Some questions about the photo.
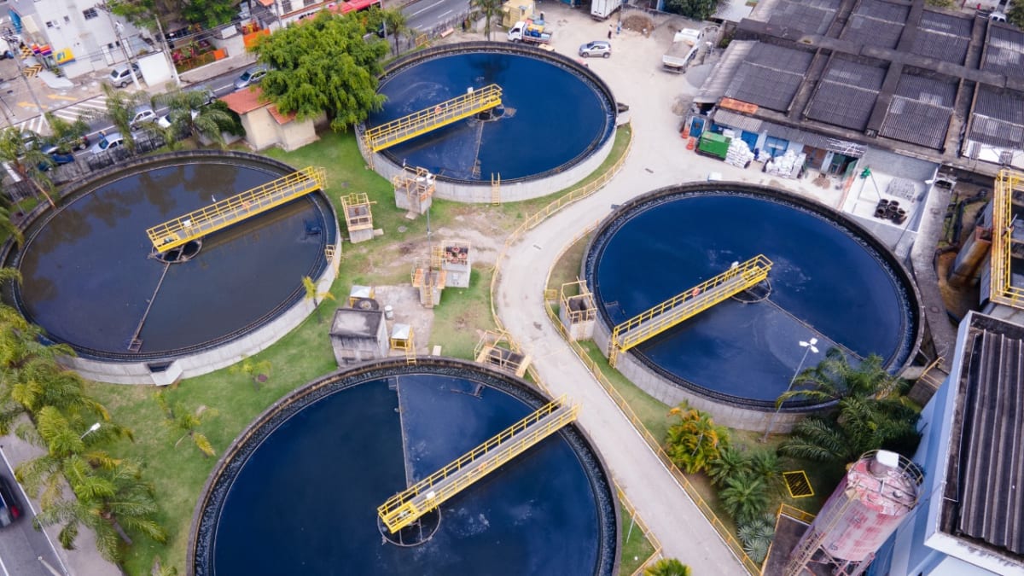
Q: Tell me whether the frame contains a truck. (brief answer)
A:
Yes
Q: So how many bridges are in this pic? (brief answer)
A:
4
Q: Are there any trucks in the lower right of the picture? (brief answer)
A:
No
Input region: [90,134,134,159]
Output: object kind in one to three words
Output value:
car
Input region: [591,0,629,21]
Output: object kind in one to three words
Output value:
truck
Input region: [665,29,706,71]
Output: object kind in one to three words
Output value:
truck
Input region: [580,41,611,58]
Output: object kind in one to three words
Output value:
car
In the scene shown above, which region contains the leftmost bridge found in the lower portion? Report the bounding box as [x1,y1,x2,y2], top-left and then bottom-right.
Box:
[380,391,580,537]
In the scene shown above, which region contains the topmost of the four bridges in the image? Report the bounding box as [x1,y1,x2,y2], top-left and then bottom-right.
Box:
[361,85,502,173]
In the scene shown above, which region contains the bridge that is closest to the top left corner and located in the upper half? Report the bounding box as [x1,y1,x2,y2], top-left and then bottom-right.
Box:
[147,166,327,252]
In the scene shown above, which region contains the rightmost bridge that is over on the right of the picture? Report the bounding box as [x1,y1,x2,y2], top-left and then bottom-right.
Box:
[607,255,775,373]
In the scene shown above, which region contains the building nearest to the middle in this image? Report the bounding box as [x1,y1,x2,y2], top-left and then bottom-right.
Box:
[328,309,389,368]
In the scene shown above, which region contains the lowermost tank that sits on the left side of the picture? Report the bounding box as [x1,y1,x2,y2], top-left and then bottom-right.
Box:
[185,358,625,576]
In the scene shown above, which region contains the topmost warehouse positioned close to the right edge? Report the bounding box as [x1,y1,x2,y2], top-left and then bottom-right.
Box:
[693,0,1024,214]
